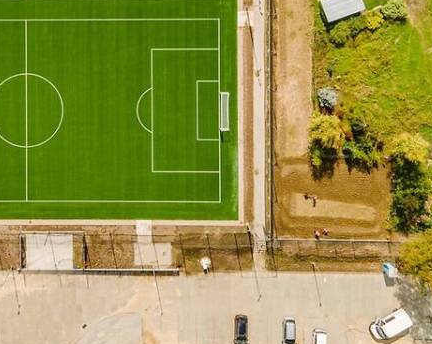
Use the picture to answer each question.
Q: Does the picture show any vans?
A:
Yes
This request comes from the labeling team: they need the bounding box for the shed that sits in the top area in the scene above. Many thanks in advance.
[318,0,365,23]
